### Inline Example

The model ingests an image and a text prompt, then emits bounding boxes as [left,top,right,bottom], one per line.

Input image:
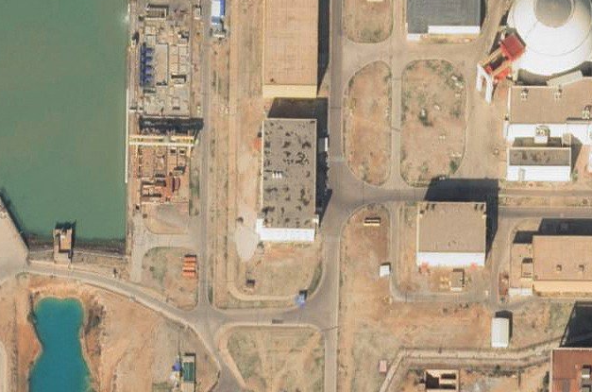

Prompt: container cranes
[129,135,197,164]
[476,34,524,103]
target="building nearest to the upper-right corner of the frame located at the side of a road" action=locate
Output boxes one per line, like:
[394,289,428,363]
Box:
[505,0,592,87]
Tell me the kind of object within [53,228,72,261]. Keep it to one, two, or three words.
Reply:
building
